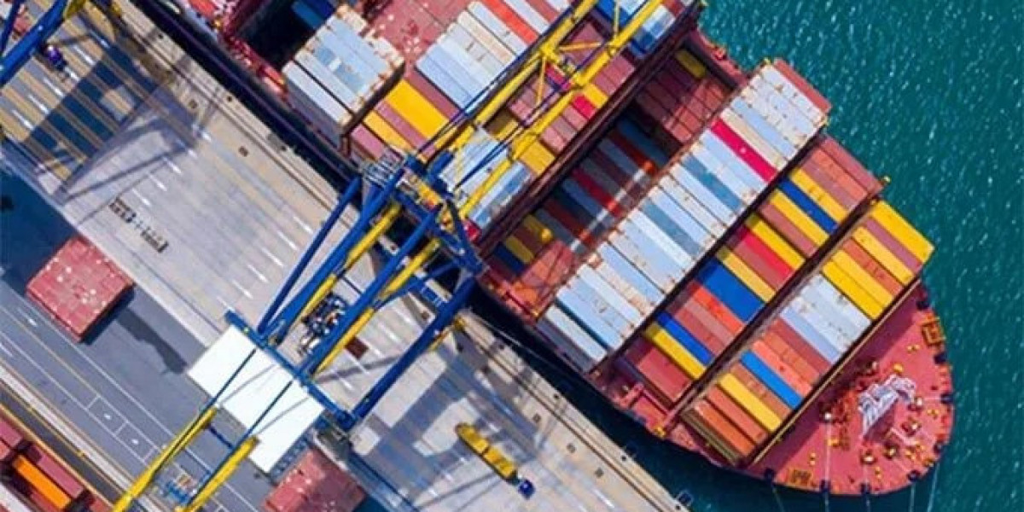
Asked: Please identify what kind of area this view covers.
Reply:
port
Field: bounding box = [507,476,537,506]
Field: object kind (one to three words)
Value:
truck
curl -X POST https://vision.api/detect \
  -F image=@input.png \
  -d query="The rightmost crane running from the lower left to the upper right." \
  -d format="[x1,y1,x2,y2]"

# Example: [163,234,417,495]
[97,0,673,512]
